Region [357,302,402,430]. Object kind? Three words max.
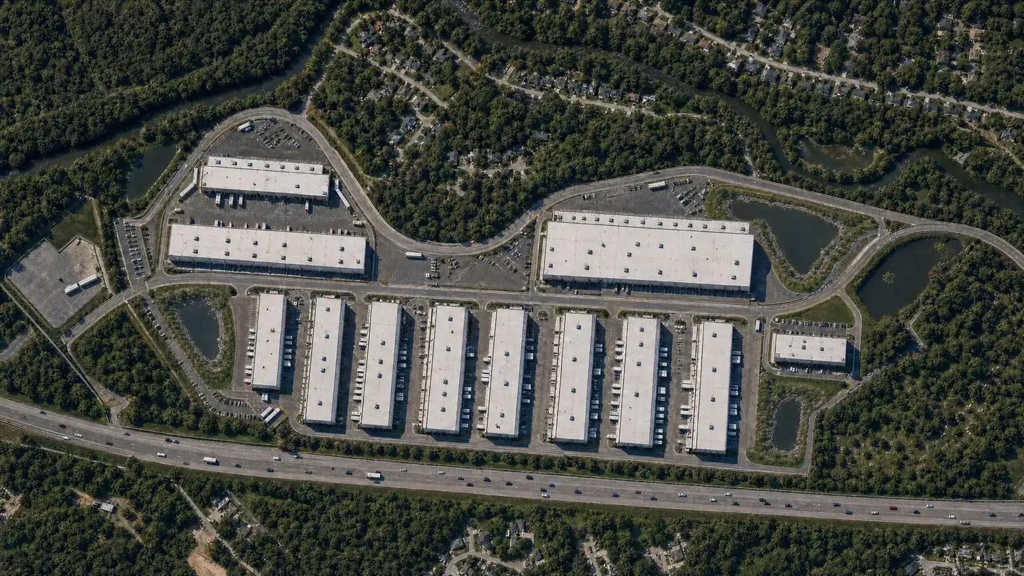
building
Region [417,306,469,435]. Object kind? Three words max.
building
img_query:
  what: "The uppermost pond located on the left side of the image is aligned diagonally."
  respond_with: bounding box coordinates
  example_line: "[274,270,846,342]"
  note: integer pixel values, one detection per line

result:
[125,144,179,201]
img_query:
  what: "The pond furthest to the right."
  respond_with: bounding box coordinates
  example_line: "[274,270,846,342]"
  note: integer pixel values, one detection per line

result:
[857,238,963,322]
